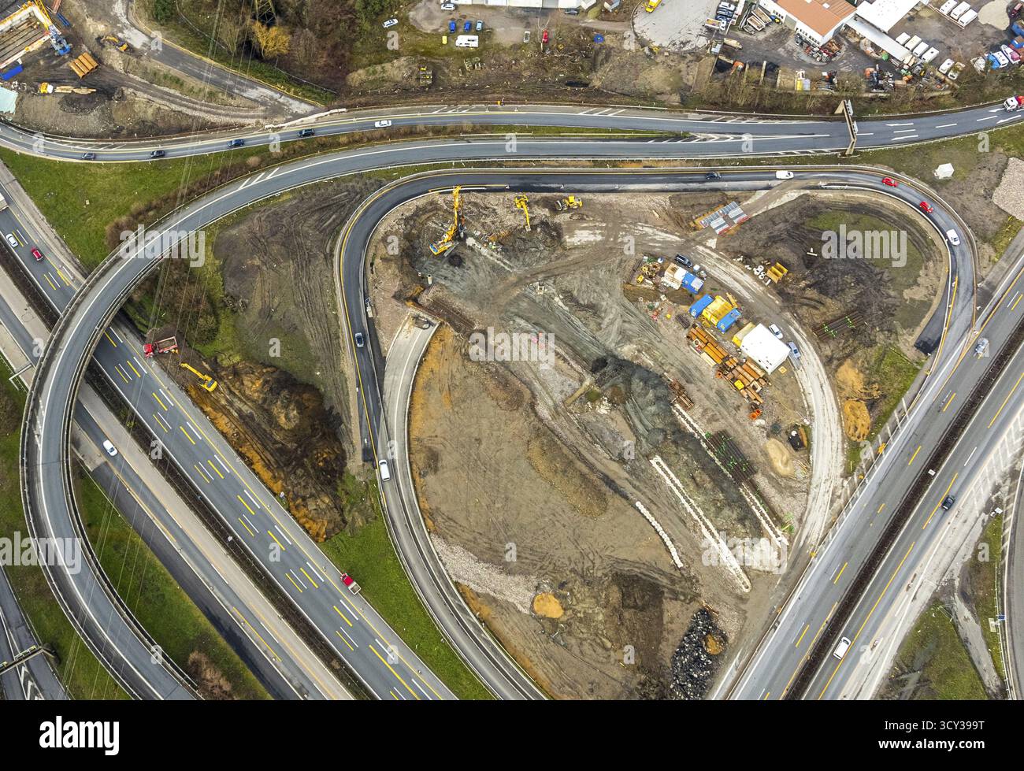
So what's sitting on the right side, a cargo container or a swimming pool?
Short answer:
cargo container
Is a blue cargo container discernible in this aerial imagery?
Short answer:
Yes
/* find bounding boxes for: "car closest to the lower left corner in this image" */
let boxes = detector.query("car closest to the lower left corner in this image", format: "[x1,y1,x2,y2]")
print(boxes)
[102,439,117,456]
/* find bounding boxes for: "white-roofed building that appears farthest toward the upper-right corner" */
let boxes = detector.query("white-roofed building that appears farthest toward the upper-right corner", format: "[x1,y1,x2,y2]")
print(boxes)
[856,0,925,38]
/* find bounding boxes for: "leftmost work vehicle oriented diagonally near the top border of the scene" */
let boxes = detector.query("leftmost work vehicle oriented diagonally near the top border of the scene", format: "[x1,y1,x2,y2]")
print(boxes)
[99,27,130,49]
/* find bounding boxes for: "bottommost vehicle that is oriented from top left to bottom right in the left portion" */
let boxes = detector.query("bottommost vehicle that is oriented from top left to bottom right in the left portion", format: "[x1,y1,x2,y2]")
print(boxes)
[338,570,362,595]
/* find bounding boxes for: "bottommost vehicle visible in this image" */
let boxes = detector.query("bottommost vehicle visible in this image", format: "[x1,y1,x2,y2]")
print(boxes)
[833,637,850,659]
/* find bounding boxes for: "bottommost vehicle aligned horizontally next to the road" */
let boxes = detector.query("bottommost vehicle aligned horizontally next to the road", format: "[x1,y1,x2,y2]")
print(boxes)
[143,338,177,356]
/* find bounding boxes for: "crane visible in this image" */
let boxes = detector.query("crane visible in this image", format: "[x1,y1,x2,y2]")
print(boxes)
[29,0,73,56]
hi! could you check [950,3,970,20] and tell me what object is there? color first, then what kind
white camper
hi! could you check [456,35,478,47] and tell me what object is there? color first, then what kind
white vehicle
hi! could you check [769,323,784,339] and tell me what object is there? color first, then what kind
white car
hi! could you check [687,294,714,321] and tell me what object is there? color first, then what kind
blue shipping container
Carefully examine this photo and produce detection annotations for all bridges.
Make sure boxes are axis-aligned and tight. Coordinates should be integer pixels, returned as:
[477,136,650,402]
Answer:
[20,134,845,771]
